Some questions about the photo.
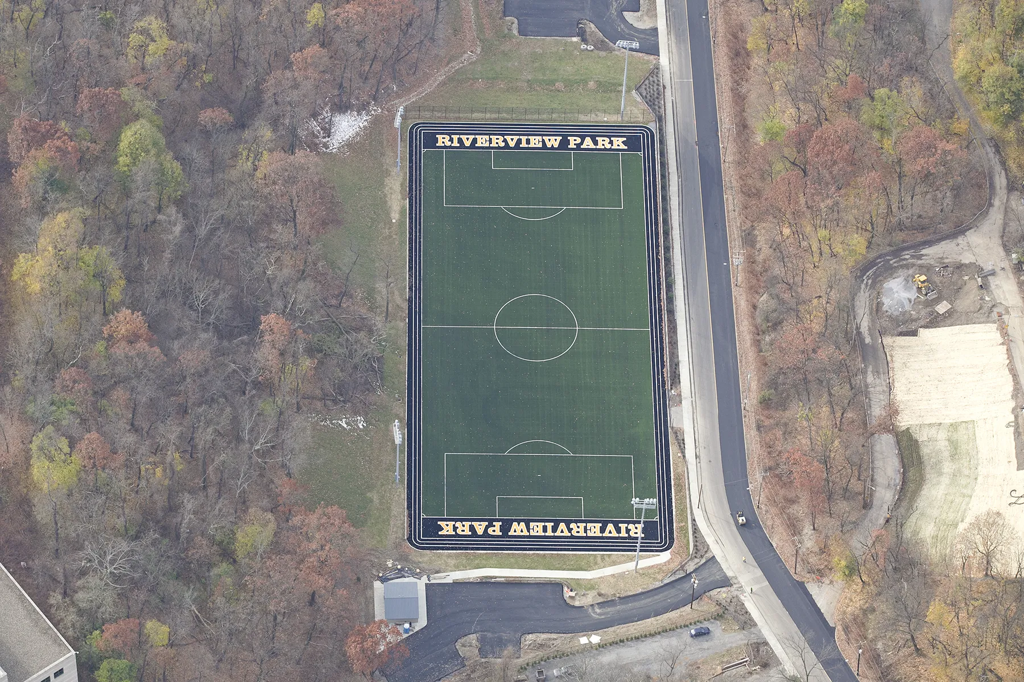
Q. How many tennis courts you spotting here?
0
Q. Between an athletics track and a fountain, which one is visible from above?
athletics track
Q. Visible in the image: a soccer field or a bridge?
soccer field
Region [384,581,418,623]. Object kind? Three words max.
shed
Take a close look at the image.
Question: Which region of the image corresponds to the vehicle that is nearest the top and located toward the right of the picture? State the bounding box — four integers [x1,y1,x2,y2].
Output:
[914,277,937,304]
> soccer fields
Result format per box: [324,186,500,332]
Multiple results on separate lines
[422,131,659,541]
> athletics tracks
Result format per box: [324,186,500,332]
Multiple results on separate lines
[407,120,673,554]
